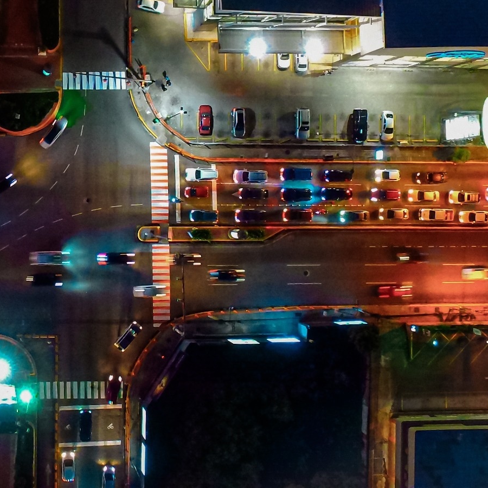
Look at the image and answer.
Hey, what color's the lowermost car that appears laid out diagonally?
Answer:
black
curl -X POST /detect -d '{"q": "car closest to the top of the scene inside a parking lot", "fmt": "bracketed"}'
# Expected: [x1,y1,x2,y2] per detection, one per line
[135,0,166,15]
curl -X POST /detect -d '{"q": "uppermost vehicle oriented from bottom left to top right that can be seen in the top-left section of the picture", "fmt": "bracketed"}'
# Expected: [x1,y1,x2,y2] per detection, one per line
[41,118,66,149]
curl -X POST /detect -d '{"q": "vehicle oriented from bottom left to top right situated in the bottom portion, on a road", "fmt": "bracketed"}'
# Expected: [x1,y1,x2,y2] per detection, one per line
[113,320,142,353]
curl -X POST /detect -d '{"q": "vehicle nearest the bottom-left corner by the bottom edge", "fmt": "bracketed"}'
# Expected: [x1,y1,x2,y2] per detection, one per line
[61,451,75,482]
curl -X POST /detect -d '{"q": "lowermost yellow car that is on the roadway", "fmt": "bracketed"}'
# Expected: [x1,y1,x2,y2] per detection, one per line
[459,267,488,282]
